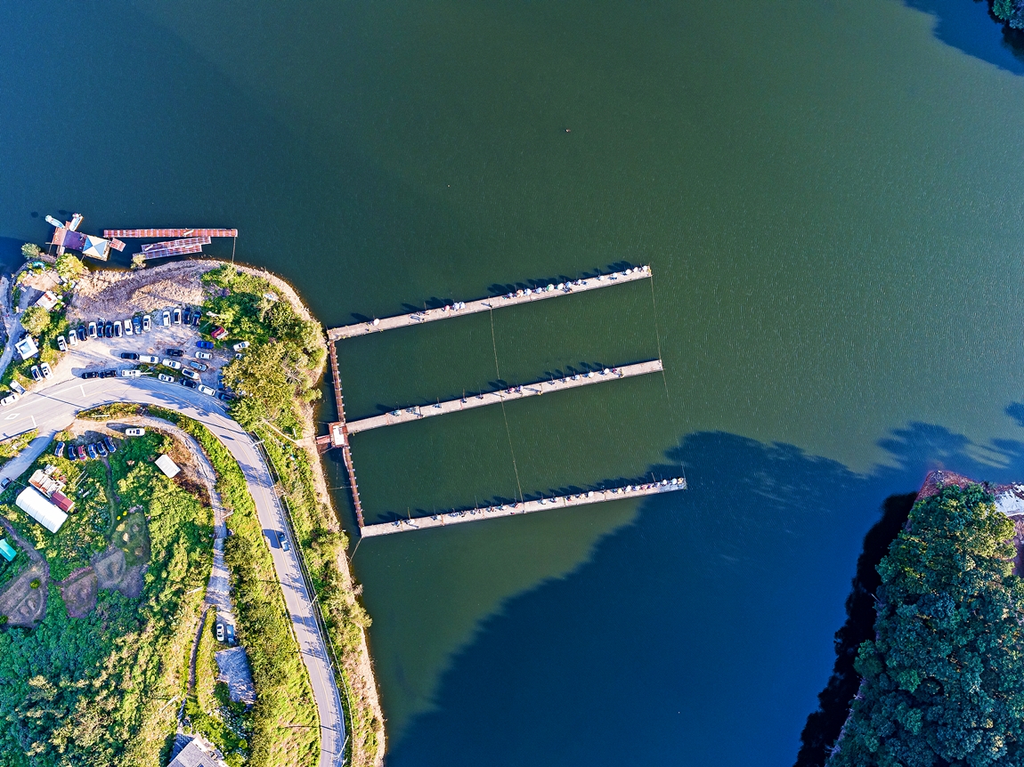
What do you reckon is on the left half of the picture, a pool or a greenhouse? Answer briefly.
greenhouse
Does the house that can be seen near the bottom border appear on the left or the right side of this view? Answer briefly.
left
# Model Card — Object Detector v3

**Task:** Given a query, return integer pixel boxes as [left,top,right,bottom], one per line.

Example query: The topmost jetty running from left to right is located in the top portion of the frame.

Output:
[328,267,652,341]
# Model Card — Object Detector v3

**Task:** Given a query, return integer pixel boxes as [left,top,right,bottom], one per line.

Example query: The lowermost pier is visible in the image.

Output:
[362,478,686,537]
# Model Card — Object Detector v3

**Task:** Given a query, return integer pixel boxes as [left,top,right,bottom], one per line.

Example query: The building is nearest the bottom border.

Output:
[167,736,231,767]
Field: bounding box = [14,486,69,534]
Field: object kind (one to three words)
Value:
greenhouse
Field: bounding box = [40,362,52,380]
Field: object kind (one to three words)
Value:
vehicle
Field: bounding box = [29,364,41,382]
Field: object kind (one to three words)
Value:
vehicle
